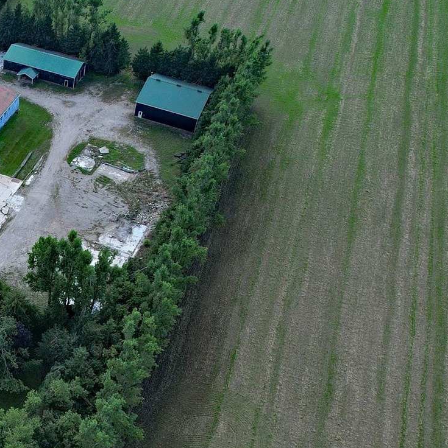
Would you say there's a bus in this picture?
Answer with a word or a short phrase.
No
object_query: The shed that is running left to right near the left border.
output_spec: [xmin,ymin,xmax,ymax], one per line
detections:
[2,43,89,87]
